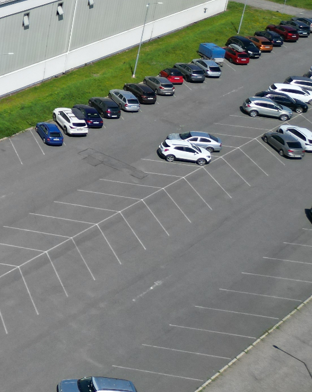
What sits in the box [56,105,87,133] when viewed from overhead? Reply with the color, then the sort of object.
white car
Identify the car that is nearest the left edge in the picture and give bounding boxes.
[31,117,60,142]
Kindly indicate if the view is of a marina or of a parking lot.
parking lot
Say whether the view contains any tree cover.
No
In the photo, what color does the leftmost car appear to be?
blue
